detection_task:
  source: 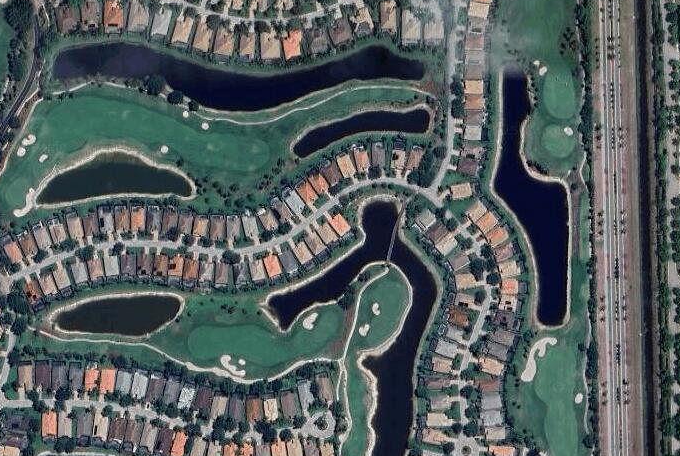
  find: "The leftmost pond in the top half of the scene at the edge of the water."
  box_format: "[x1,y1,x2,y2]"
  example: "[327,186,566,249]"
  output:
[37,150,191,204]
